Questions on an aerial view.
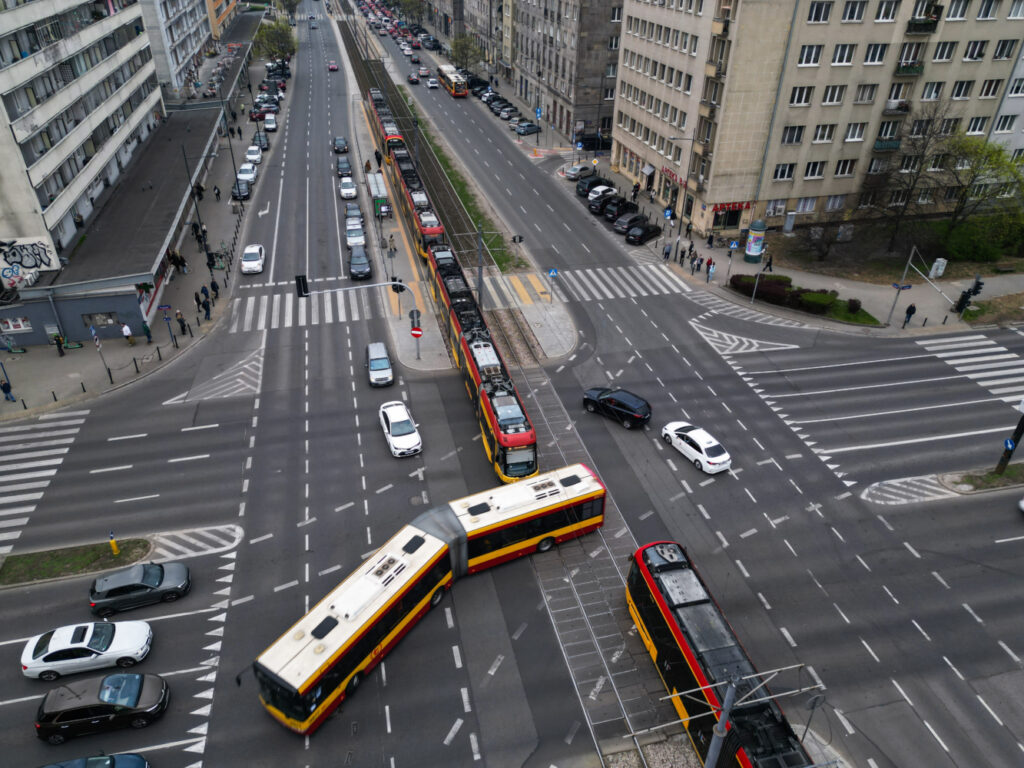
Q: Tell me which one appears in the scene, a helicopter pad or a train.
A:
train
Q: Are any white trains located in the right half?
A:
No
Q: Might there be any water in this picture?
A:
No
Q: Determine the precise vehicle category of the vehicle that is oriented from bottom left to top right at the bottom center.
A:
bus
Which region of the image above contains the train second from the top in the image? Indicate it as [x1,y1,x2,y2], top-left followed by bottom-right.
[388,153,448,268]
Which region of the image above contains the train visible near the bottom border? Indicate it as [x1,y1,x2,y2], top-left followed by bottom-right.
[620,540,824,768]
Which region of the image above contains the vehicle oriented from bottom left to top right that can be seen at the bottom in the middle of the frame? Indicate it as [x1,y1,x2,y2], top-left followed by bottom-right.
[226,461,609,743]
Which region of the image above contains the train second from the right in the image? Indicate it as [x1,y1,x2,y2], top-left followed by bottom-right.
[421,241,547,485]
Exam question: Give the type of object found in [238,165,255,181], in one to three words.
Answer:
car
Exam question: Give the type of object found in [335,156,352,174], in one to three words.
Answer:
car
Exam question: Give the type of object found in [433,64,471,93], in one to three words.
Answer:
bus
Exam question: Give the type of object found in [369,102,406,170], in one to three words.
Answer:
train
